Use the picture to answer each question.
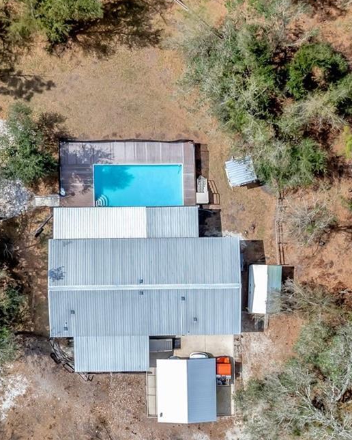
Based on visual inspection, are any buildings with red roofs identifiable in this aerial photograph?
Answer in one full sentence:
No, the photo shows no building with a red roof.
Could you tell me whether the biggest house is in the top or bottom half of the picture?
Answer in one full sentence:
It is in the bottom half that the biggest house appears.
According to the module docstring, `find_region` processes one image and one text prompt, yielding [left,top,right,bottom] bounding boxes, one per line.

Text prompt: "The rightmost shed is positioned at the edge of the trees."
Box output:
[246,265,283,313]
